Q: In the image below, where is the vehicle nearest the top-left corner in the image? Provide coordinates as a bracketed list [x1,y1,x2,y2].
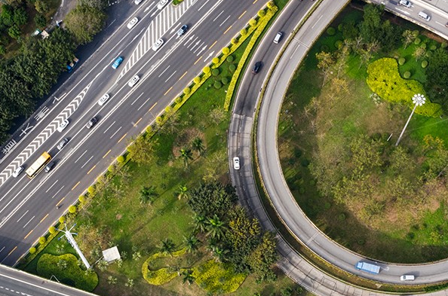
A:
[63,56,79,72]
